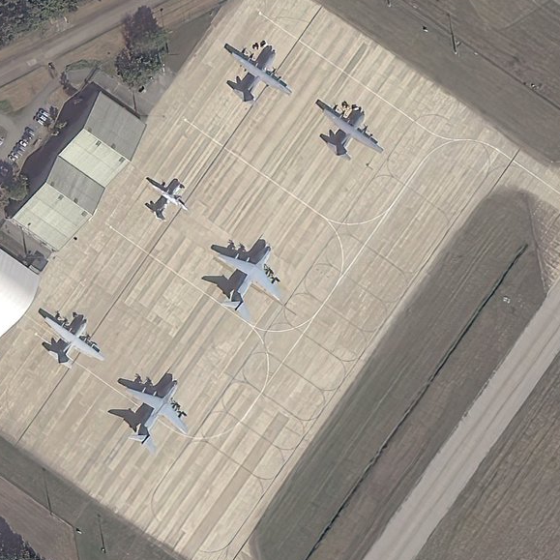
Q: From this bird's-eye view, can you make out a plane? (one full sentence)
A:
Yes, a plane appears in the view.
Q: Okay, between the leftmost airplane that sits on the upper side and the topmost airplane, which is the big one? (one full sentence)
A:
The leftmost airplane that sits on the upper side is smaller than the topmost airplane.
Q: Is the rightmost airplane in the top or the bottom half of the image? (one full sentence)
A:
It is in the top half that the rightmost airplane appears.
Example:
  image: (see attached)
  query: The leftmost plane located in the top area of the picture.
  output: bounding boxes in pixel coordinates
[150,184,189,219]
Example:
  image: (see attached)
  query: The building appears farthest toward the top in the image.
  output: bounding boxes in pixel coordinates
[51,91,149,187]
